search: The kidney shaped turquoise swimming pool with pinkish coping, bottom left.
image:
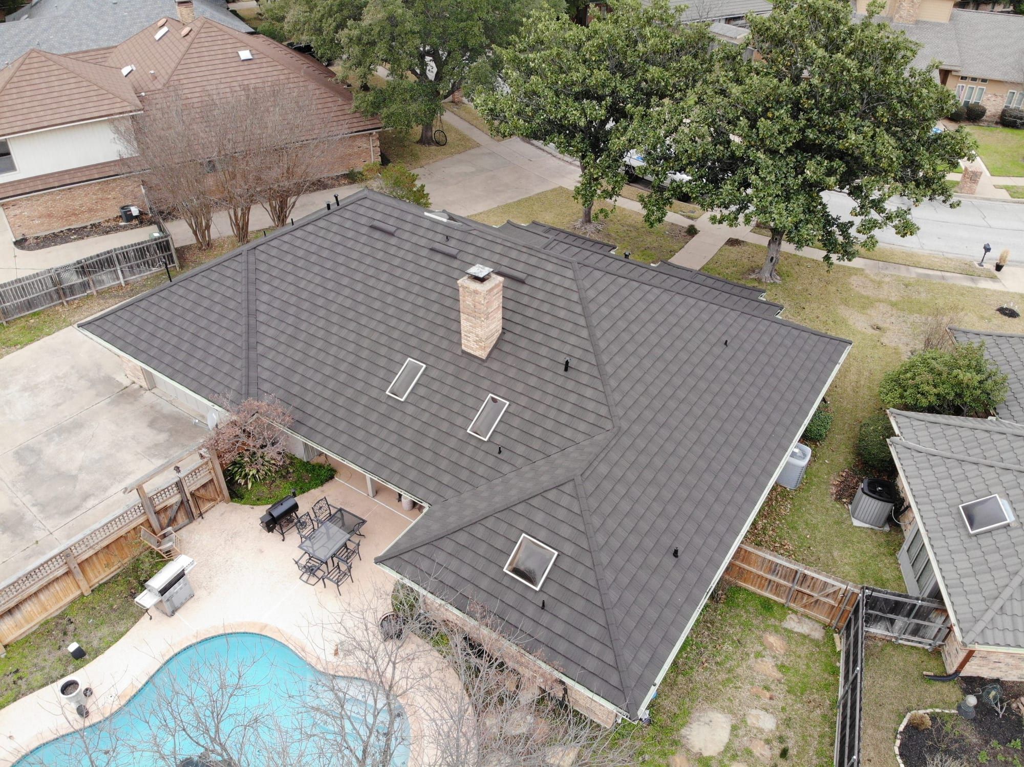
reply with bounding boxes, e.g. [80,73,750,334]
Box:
[20,631,409,767]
